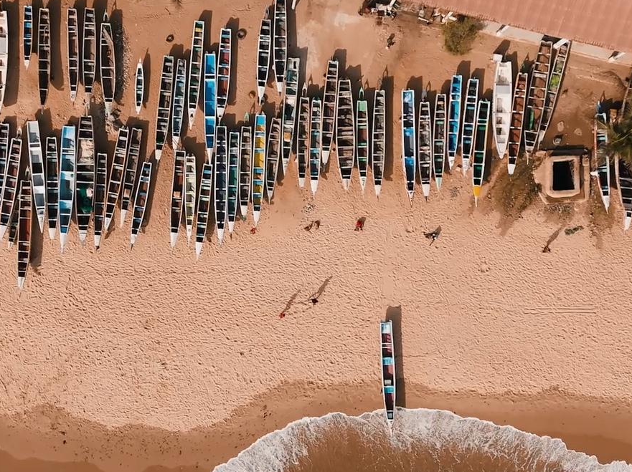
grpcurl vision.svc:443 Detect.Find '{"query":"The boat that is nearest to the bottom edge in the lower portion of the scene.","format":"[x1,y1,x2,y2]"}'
[382,320,395,439]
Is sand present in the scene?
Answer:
Yes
